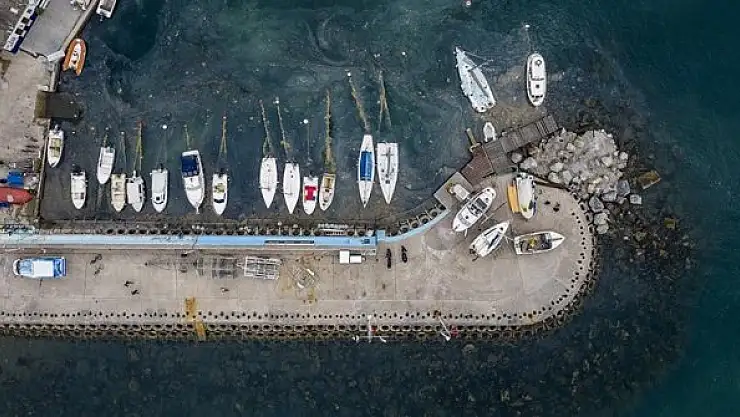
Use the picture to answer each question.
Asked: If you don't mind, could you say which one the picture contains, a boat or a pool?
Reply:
boat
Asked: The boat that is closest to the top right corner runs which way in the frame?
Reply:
up and down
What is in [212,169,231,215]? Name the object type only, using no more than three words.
boat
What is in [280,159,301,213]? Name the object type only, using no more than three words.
boat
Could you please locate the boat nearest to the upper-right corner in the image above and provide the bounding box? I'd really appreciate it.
[526,53,547,106]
